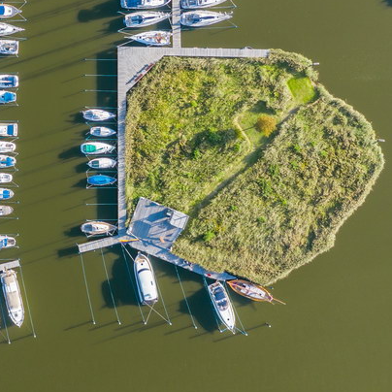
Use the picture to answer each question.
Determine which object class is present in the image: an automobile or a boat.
boat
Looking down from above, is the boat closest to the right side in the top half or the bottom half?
bottom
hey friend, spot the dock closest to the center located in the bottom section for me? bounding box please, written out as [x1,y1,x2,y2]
[77,234,122,253]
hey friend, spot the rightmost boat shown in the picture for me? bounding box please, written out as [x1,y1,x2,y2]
[226,280,286,308]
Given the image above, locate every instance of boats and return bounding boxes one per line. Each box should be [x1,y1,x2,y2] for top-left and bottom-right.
[90,126,116,137]
[0,235,19,249]
[206,277,237,336]
[0,189,15,200]
[226,280,286,308]
[0,155,20,169]
[0,141,18,153]
[0,90,17,105]
[0,3,23,18]
[84,157,120,169]
[181,11,235,28]
[0,122,23,137]
[81,222,120,235]
[0,22,26,36]
[0,73,24,89]
[0,172,17,184]
[116,0,172,10]
[82,108,116,122]
[120,11,174,31]
[0,205,14,217]
[137,250,160,308]
[0,268,23,328]
[181,0,232,9]
[76,141,116,155]
[128,31,172,47]
[0,40,23,56]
